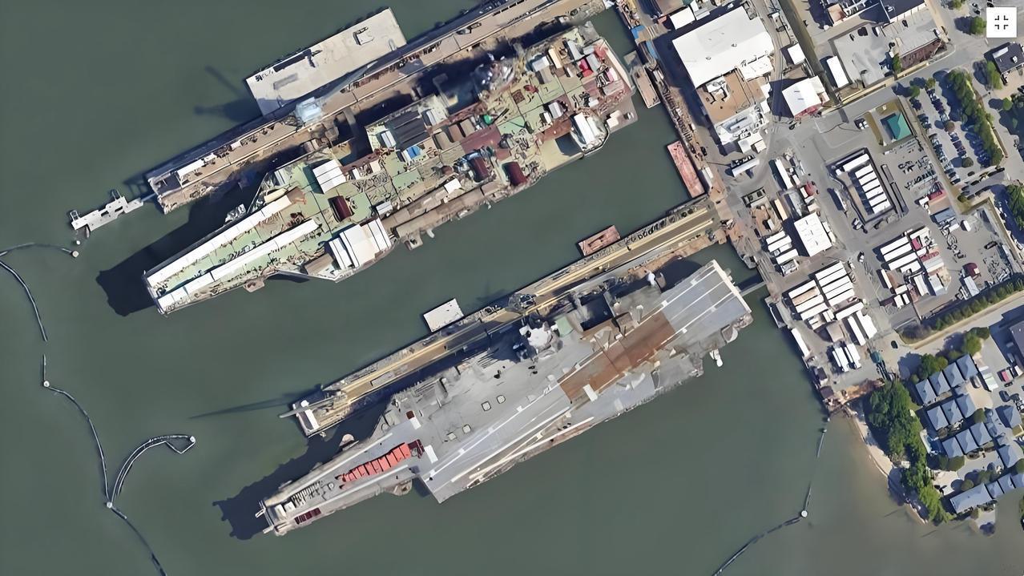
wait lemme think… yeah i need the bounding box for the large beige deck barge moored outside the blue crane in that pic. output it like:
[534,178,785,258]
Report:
[247,8,407,116]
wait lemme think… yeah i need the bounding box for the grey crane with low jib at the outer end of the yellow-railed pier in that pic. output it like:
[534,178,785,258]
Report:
[278,385,350,419]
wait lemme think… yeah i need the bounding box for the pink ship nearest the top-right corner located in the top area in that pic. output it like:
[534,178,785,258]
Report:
[668,141,704,198]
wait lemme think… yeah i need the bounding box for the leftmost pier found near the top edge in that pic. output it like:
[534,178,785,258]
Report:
[146,0,609,214]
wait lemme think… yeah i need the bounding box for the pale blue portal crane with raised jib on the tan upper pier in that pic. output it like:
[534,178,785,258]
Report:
[290,61,380,129]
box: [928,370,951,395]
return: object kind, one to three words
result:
house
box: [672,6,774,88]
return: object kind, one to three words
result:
building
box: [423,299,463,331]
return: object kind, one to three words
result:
ship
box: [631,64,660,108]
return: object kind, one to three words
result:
ship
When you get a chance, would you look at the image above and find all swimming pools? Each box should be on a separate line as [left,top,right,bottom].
[922,430,939,456]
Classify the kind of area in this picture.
port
